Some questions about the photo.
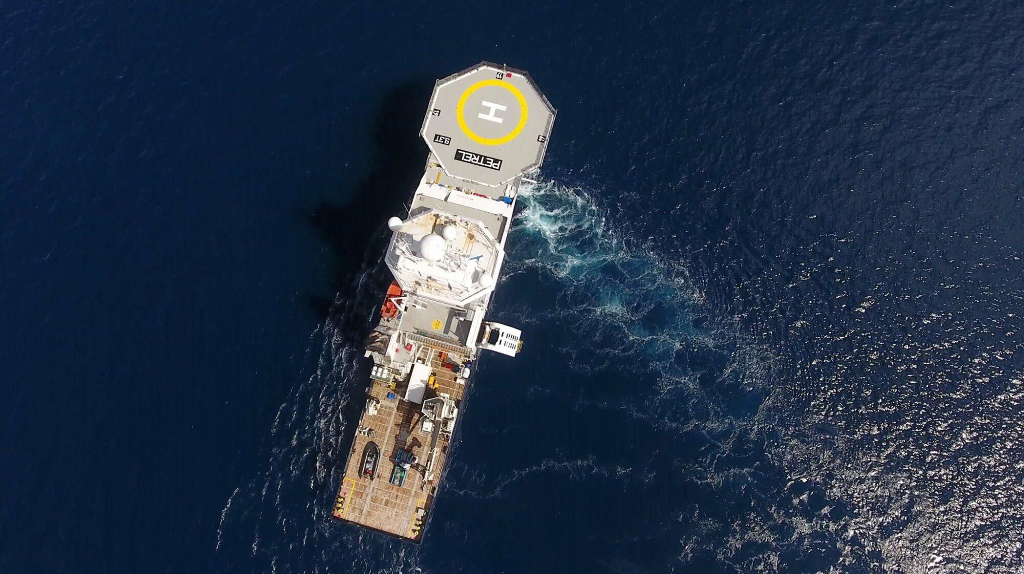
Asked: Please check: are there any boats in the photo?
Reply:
Yes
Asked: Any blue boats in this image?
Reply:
No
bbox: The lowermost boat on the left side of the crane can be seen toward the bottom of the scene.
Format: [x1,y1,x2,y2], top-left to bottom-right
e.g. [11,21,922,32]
[357,442,379,483]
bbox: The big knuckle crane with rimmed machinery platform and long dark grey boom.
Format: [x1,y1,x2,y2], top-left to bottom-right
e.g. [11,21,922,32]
[418,396,445,472]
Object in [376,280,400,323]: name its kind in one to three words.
boat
